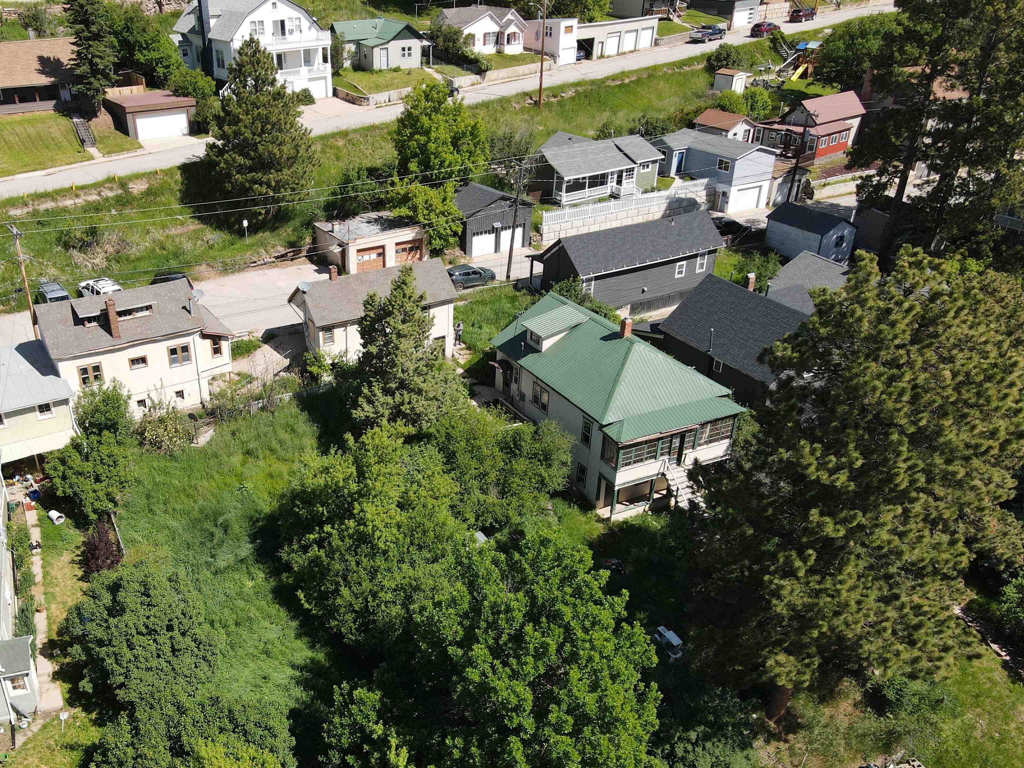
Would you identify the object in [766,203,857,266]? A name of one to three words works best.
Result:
shed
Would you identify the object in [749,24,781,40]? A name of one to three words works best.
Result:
car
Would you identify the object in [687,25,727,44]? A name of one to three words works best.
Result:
vehicle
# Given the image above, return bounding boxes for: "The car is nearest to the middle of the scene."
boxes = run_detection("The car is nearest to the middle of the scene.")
[446,263,502,291]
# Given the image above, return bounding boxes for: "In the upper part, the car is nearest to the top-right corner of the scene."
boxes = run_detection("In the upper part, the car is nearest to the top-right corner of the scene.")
[789,8,816,22]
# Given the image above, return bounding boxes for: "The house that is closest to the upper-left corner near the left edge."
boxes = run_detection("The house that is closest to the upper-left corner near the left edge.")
[0,43,108,126]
